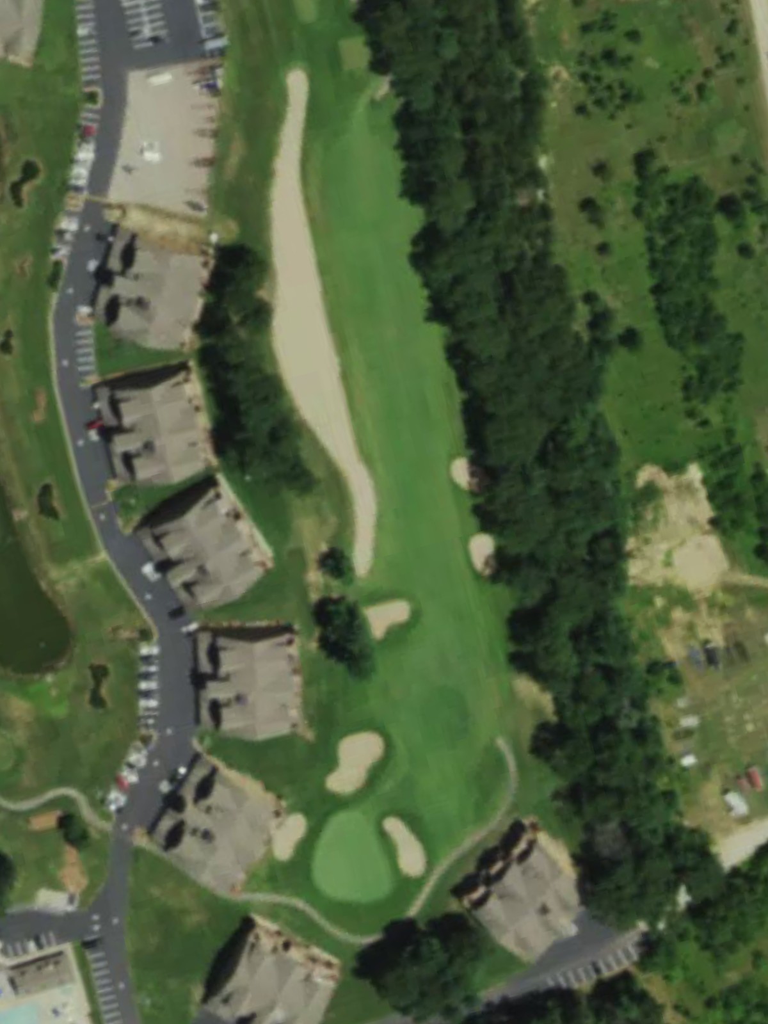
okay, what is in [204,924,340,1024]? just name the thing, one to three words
building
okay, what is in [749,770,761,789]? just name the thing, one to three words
vehicle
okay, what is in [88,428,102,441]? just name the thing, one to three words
vehicle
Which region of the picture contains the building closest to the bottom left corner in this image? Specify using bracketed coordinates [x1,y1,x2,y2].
[9,952,77,1003]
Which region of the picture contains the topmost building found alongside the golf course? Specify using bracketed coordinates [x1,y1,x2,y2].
[94,233,217,338]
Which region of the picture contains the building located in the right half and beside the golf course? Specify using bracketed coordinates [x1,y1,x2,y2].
[459,835,593,968]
